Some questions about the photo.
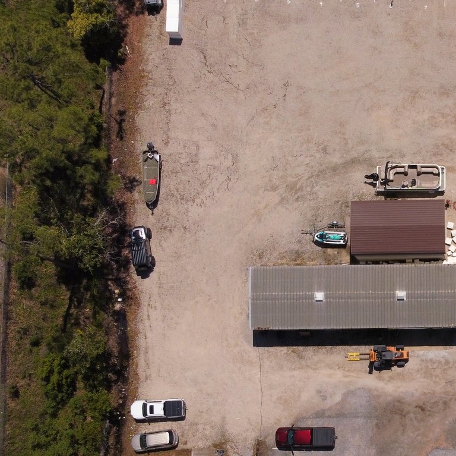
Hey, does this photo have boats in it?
Yes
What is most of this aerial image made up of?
paved ground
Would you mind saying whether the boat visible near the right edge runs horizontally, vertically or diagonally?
horizontally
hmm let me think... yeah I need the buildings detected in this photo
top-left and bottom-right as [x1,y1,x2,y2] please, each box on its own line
[247,265,456,332]
[349,200,447,254]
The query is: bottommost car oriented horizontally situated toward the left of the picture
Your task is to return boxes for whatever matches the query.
[131,430,180,454]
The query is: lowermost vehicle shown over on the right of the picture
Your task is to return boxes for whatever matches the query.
[276,426,339,450]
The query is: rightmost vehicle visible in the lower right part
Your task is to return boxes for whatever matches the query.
[343,342,413,369]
